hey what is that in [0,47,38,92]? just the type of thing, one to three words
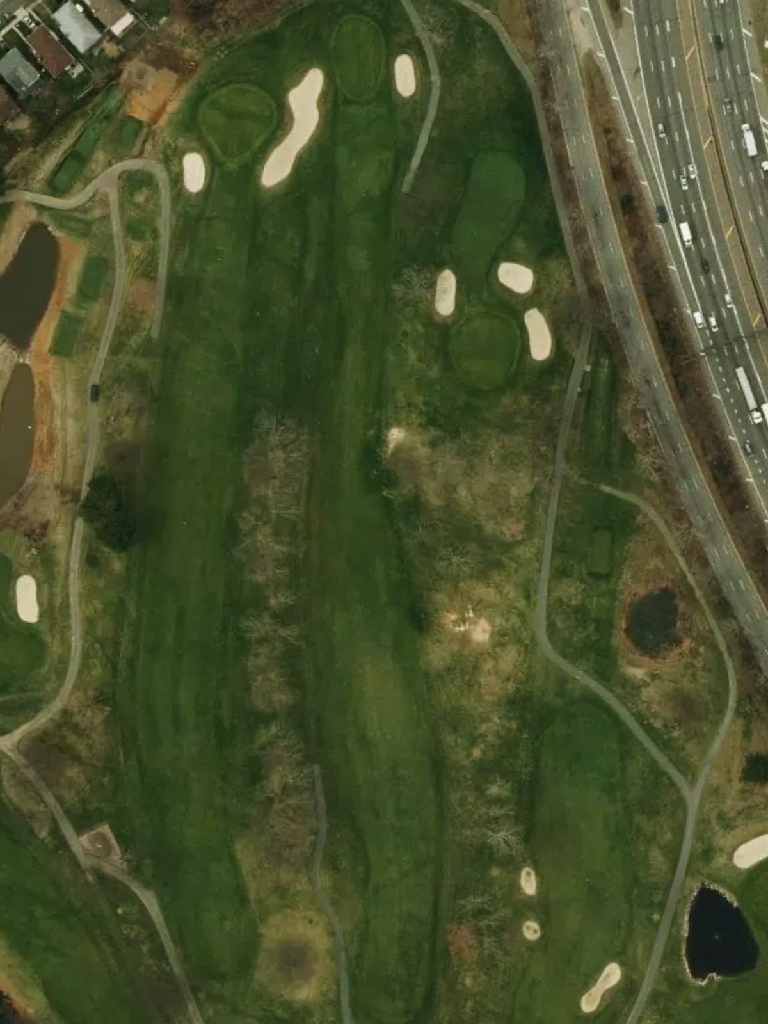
house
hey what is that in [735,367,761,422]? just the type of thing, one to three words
truck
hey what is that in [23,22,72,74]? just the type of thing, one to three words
house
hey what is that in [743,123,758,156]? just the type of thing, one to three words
vehicle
